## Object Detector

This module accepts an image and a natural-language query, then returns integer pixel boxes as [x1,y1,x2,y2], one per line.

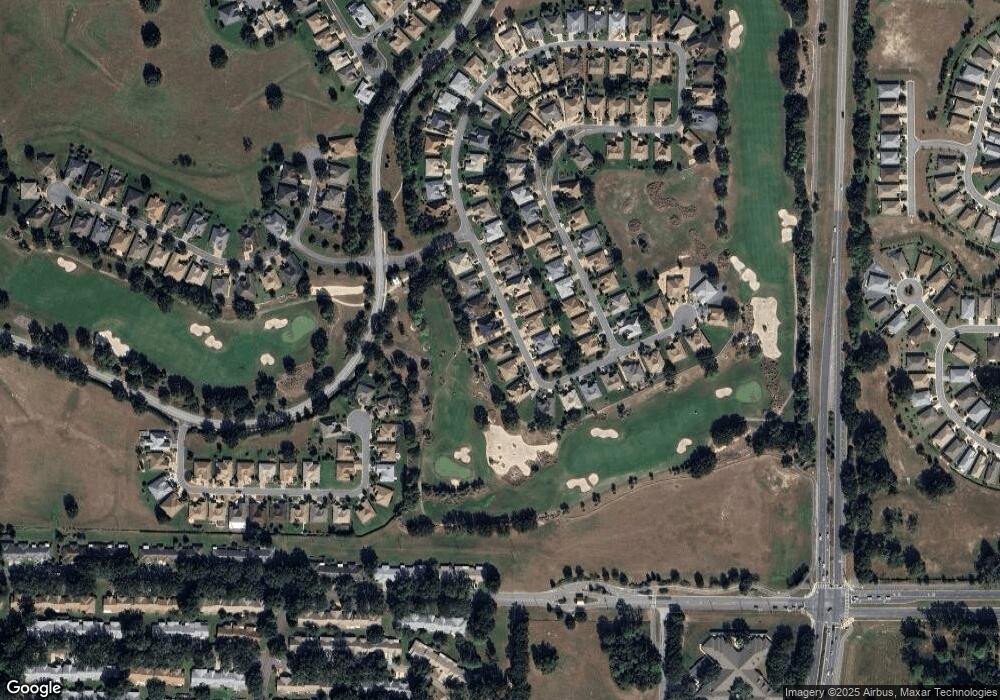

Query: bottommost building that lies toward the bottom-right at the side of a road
[692,630,778,700]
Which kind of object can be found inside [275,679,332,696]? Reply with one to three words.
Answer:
building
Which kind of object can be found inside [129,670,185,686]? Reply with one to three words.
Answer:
building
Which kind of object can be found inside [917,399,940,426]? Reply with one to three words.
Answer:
house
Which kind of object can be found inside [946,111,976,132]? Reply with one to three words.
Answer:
house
